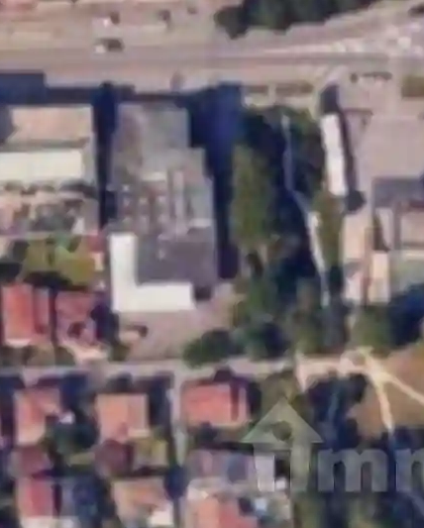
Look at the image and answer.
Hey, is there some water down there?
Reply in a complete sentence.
No, the scene doesn't show any water.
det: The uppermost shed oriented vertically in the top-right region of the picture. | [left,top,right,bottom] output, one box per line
[323,85,349,201]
